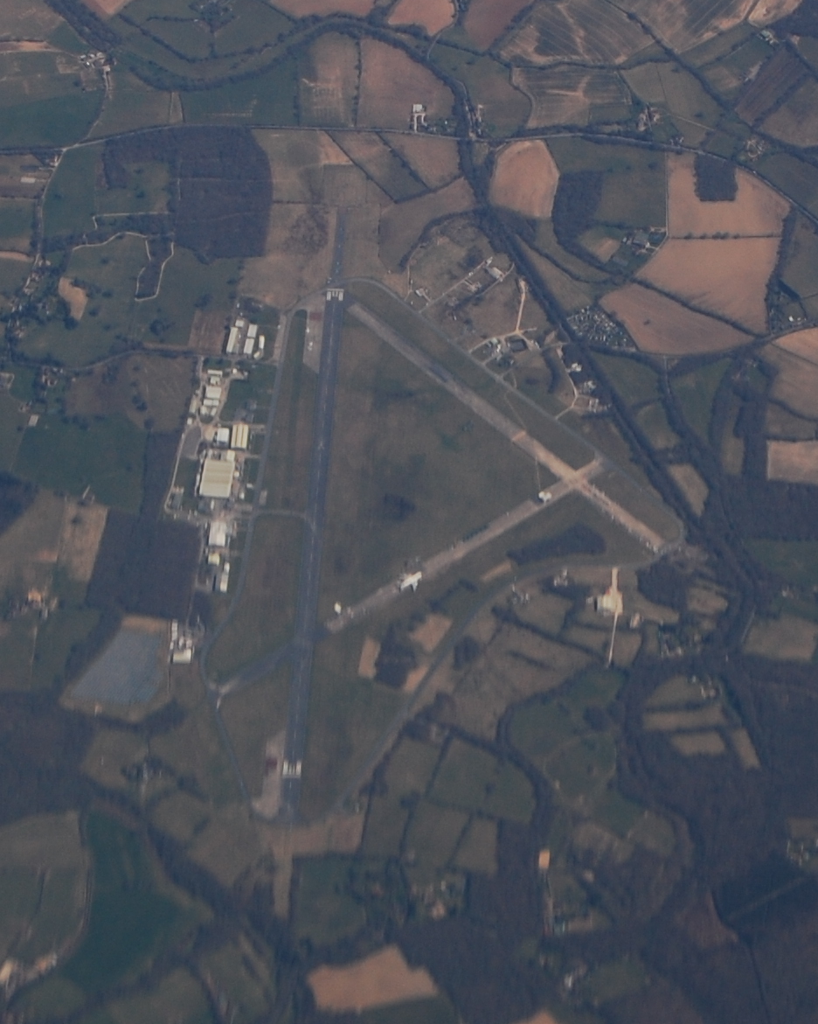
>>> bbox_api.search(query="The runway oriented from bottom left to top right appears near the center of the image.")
[328,455,604,635]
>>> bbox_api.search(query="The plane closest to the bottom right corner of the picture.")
[397,572,421,589]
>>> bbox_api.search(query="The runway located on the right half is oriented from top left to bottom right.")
[347,303,665,551]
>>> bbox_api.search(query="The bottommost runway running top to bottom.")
[281,289,345,820]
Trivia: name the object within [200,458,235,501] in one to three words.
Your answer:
hangar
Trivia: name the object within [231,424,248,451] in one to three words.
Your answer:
hangar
